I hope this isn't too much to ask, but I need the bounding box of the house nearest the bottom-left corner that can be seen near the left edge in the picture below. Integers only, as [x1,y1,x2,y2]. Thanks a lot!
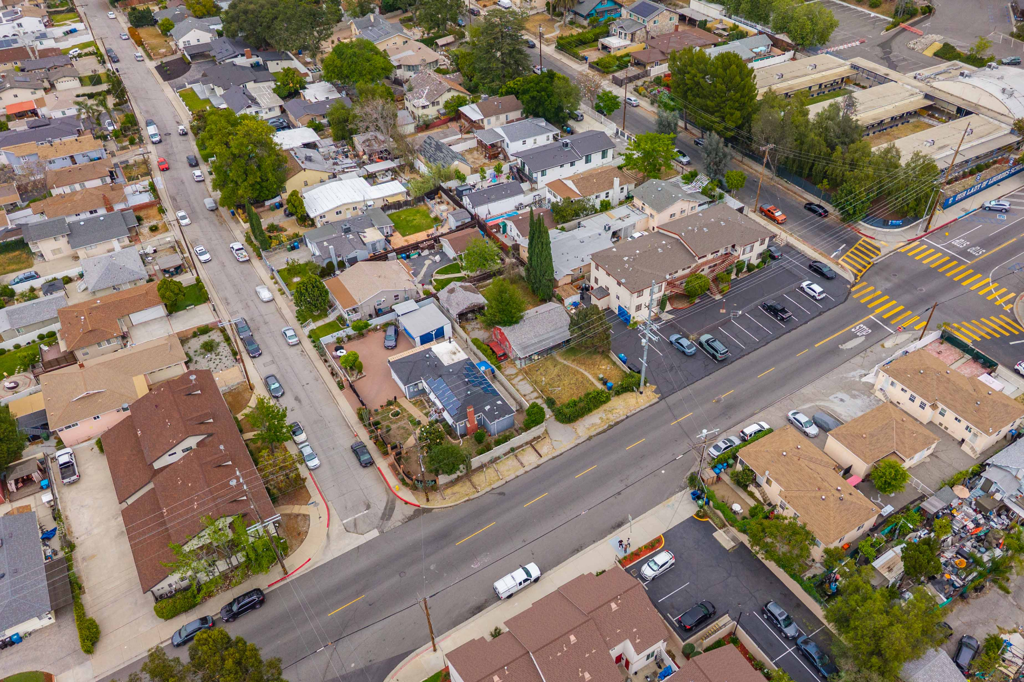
[0,507,81,652]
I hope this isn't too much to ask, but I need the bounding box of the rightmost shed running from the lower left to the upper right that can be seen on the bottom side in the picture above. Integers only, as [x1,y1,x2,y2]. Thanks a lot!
[920,488,958,519]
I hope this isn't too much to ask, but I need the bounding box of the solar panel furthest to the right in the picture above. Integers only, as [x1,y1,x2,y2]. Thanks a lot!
[630,1,658,16]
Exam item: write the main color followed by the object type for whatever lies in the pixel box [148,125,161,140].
white vehicle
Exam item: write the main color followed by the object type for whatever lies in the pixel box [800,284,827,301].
white car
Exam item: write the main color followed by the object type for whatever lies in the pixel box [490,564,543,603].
white truck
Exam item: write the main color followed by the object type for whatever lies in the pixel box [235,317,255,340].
gray car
